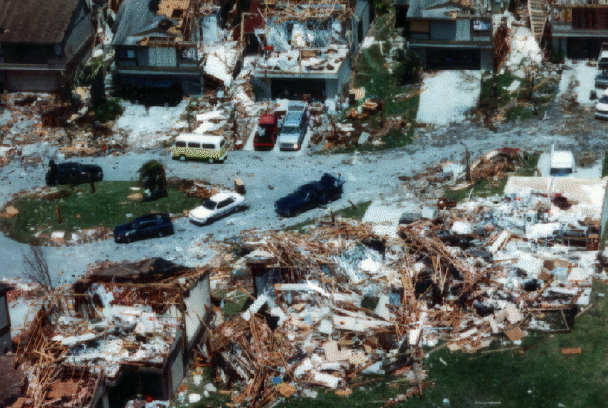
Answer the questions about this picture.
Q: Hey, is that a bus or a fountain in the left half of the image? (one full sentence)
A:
Looking in the left half of the image, you will find a bus.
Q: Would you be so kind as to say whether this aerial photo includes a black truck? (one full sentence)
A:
Yes, there's a black truck here.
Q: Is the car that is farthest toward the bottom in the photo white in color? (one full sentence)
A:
No, the color of the car that is farthest toward the bottom is black.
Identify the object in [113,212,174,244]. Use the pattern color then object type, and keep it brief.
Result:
black car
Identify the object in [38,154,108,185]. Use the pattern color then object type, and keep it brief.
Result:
black truck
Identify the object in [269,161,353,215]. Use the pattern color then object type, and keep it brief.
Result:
black truck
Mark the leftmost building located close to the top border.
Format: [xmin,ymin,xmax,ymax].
[0,0,98,93]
